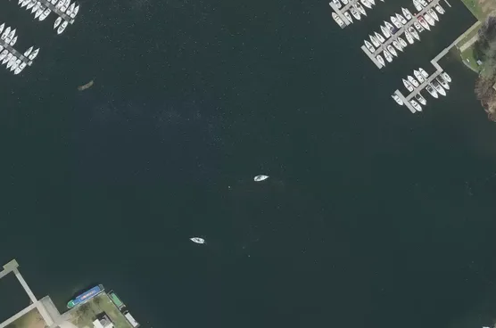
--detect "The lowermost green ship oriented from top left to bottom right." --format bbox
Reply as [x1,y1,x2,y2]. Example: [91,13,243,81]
[109,291,126,309]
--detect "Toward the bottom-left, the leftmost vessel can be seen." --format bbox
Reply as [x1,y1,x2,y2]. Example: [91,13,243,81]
[67,285,105,306]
